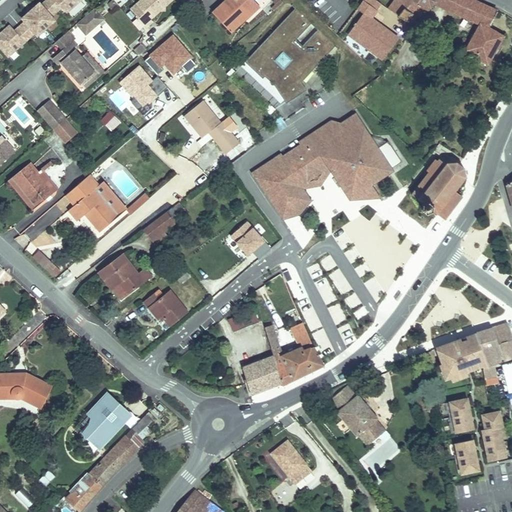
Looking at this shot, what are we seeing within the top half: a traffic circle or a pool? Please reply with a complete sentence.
You can see a pool within the top half.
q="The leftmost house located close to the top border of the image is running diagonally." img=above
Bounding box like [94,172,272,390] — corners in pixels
[0,1,56,58]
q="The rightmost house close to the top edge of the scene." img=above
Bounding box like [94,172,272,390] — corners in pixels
[468,22,506,64]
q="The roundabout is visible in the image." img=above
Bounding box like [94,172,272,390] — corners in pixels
[185,397,246,455]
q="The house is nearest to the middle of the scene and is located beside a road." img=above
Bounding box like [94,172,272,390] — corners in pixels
[231,220,266,258]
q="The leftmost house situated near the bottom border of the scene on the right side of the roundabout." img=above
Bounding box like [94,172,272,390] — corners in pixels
[263,439,312,487]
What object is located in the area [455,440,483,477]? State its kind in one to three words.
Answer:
house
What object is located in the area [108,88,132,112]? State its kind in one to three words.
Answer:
swimming pool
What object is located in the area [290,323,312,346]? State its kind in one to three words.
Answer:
shed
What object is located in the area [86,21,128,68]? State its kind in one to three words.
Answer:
swimming pool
